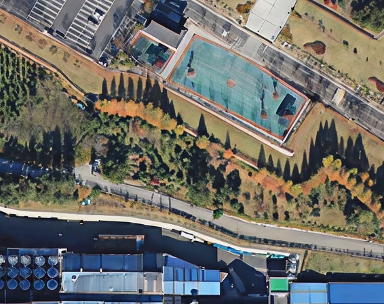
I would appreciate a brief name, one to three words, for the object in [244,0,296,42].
building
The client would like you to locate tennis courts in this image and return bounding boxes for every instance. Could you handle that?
[131,32,174,72]
[168,35,310,141]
